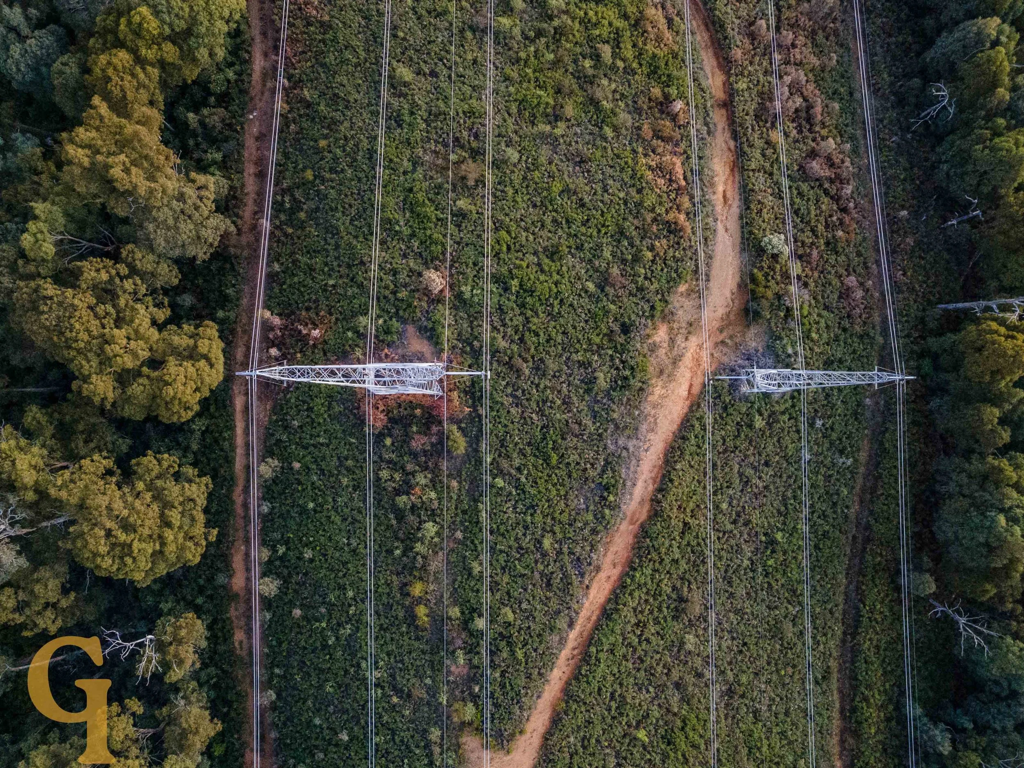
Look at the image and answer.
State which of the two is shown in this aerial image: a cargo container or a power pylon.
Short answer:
power pylon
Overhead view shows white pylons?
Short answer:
Yes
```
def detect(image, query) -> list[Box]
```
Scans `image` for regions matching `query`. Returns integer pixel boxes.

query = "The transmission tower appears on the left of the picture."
[236,355,488,395]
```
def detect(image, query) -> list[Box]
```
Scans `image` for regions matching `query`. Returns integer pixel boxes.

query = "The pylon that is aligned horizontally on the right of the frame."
[706,363,921,392]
